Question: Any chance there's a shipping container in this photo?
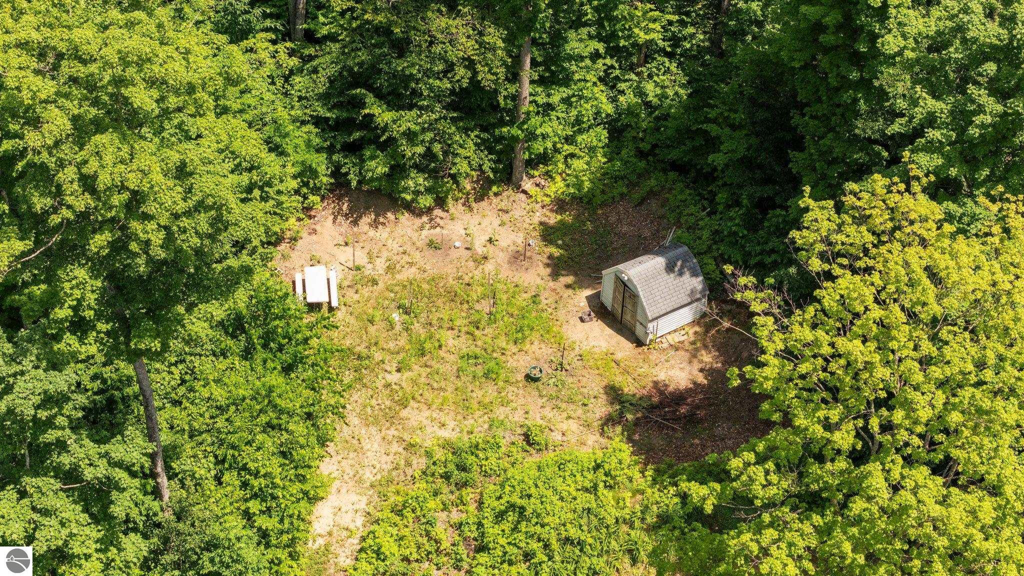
No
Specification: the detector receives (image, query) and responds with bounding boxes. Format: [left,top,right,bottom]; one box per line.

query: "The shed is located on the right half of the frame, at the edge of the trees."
[597,238,710,344]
